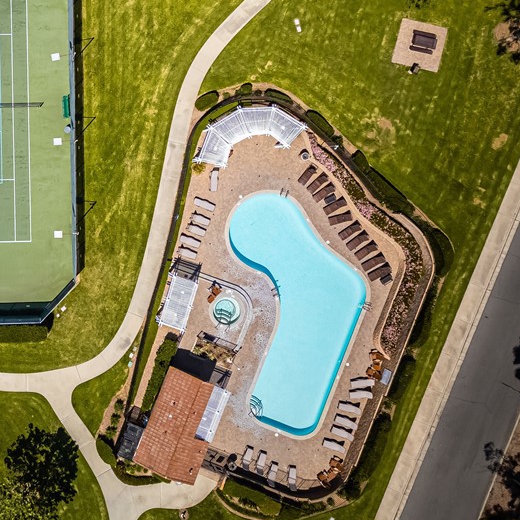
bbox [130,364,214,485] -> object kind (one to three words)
building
